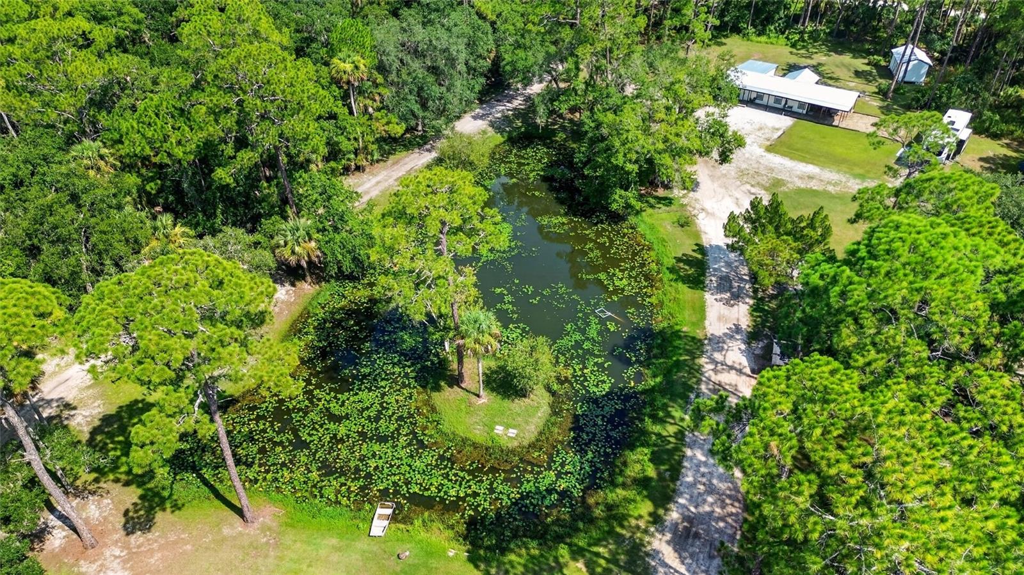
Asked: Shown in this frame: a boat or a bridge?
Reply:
boat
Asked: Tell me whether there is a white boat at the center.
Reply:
No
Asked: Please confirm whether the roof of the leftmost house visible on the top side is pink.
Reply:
No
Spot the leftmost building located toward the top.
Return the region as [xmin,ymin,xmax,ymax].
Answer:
[717,61,865,130]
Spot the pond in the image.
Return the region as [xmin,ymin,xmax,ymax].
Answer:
[191,129,660,546]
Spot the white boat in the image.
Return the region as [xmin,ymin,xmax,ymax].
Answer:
[369,499,393,536]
